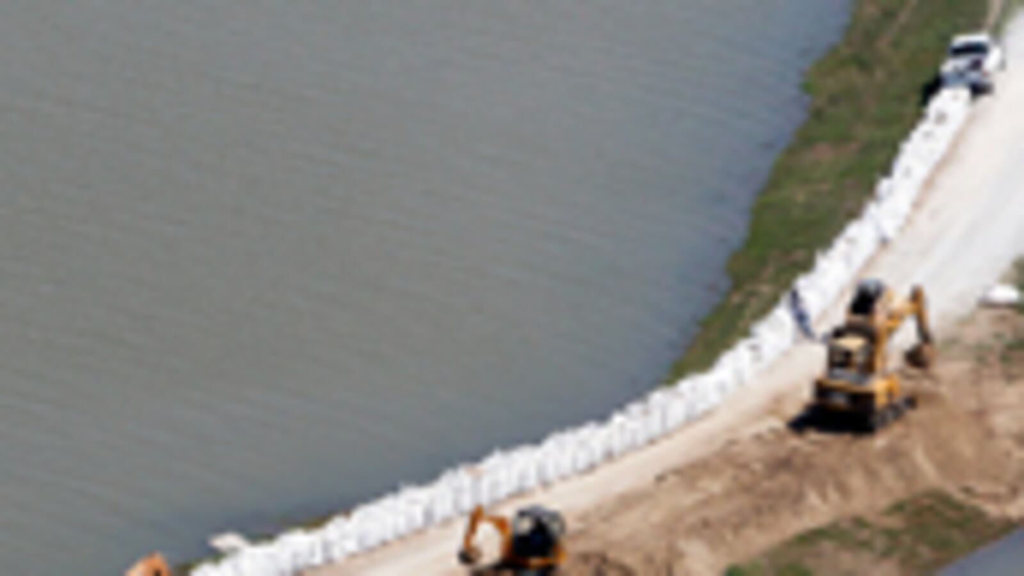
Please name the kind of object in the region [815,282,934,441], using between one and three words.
work vehicle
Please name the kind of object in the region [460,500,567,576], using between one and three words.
work vehicle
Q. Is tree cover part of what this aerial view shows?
No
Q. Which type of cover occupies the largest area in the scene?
water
